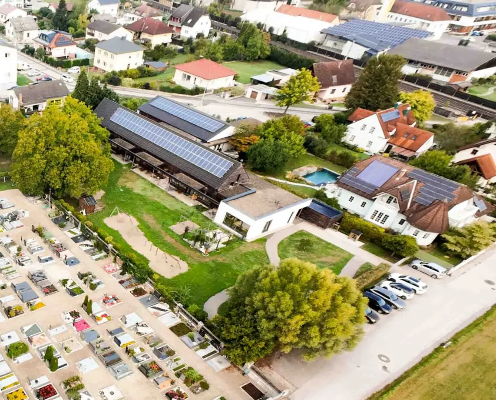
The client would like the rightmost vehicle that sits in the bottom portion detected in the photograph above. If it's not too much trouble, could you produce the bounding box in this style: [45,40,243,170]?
[411,260,450,278]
